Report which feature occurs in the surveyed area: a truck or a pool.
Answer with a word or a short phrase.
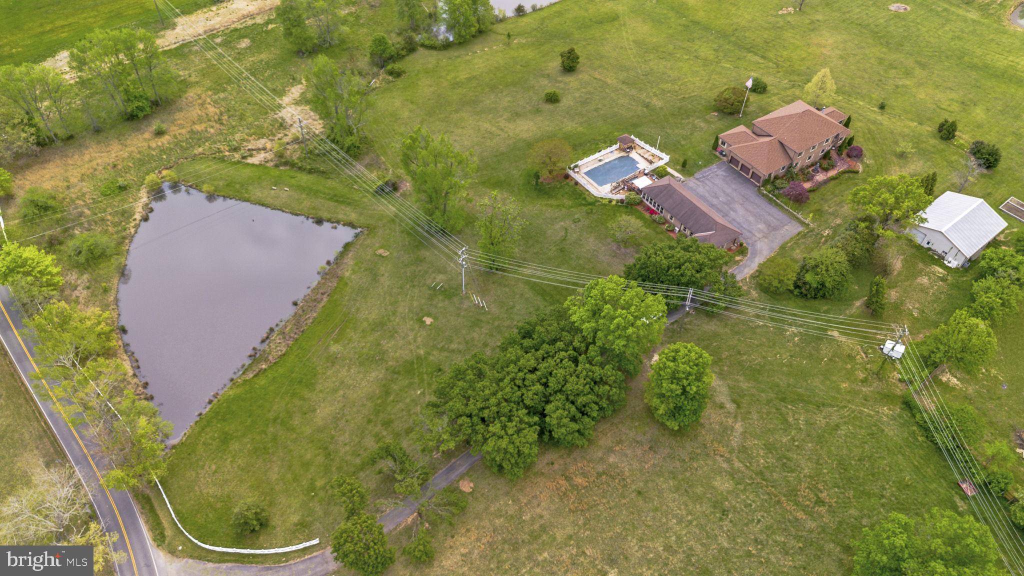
pool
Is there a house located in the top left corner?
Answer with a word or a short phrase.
No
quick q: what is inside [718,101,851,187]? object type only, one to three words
house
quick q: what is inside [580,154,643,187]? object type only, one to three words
swimming pool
